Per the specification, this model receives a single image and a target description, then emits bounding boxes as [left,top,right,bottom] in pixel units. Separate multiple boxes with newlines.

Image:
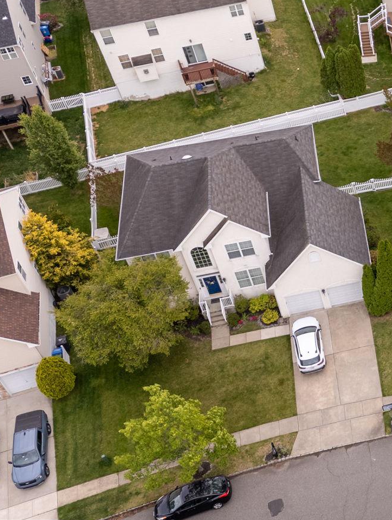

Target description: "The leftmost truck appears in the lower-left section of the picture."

[6,405,51,487]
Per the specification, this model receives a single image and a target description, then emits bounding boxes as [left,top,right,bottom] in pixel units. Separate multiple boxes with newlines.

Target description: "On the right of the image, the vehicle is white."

[289,319,326,374]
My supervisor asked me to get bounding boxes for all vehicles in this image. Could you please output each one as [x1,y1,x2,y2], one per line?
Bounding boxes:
[289,319,326,374]
[6,405,51,487]
[151,476,233,520]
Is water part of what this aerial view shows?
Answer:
No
